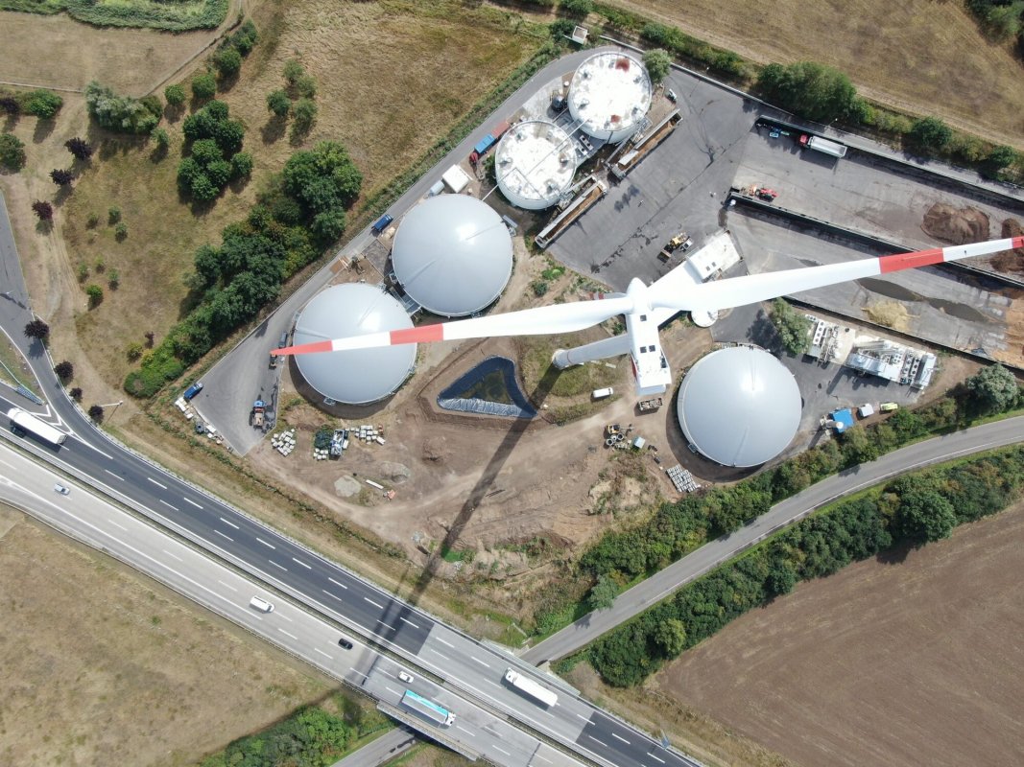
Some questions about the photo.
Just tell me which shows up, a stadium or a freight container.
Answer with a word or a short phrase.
freight container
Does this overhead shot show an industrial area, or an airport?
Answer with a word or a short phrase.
industrial area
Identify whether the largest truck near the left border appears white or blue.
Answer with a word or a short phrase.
white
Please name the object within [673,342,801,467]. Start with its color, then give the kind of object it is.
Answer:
white storage tank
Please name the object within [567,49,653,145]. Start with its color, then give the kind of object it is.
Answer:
white storage tank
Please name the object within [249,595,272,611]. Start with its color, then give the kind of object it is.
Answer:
white vehicle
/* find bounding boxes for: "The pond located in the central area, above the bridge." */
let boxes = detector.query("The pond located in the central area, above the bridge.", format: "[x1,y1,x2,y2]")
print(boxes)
[437,355,538,418]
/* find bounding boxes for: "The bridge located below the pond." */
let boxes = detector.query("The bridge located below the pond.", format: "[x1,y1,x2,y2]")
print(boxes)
[363,627,600,767]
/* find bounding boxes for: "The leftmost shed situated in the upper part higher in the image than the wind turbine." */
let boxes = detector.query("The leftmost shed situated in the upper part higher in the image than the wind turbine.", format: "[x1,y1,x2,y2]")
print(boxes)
[442,163,473,193]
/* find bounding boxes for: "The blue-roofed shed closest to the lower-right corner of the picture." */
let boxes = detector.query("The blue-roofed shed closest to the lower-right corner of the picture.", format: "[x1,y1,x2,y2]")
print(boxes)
[828,407,856,433]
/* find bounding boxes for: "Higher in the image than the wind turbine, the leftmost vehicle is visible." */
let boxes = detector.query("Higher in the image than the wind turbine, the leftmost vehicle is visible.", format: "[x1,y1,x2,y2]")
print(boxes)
[373,215,393,232]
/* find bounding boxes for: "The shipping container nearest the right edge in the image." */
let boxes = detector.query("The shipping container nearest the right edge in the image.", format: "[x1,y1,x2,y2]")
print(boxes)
[907,353,937,389]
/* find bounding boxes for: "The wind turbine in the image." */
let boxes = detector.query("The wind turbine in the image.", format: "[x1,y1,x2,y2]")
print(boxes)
[275,237,1024,398]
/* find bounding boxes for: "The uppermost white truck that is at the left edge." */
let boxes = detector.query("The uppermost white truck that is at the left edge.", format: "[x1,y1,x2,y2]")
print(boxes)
[8,407,67,444]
